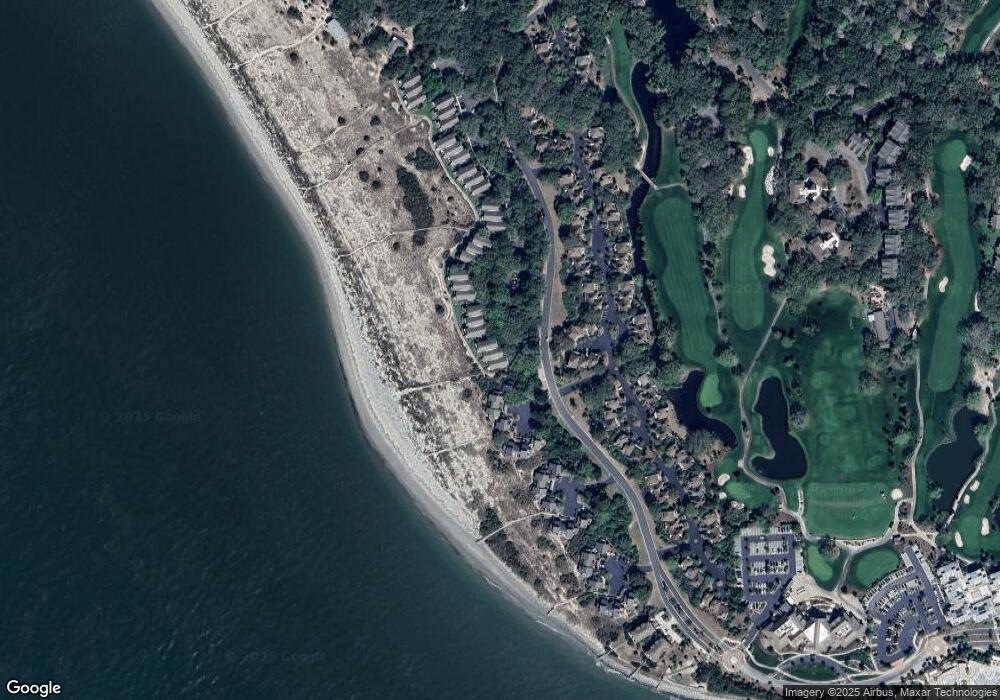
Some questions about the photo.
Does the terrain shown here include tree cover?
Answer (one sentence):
Yes, the picture does contain tree cover.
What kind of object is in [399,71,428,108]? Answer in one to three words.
house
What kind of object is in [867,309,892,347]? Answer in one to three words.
building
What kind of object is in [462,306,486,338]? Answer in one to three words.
house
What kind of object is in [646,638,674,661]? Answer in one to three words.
building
